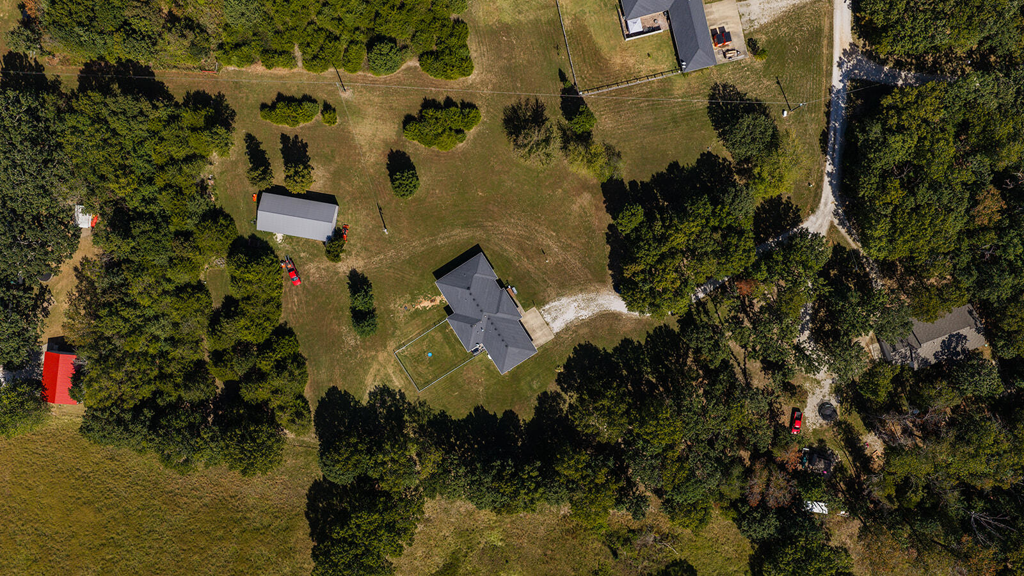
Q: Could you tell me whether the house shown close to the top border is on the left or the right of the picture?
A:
right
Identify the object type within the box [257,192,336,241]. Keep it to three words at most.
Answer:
barn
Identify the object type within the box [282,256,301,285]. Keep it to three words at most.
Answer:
vehicle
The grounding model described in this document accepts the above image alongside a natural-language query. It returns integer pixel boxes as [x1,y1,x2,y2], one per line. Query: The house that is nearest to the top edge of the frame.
[622,0,717,72]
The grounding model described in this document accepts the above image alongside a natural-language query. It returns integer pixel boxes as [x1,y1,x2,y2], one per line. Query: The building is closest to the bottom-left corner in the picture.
[42,351,83,405]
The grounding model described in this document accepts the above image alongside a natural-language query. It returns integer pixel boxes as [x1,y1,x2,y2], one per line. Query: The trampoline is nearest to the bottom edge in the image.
[820,405,838,421]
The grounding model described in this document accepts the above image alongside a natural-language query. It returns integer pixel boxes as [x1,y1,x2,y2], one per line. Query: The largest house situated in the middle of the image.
[435,252,538,374]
